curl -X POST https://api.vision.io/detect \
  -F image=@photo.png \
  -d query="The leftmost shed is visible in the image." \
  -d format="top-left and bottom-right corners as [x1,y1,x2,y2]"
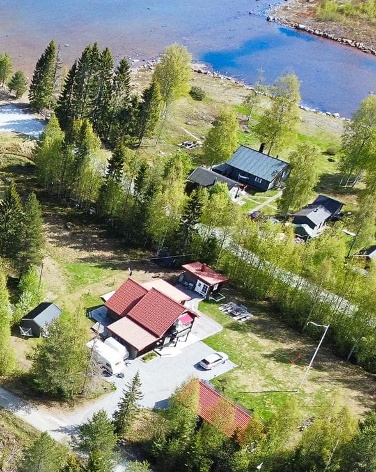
[23,301,65,340]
